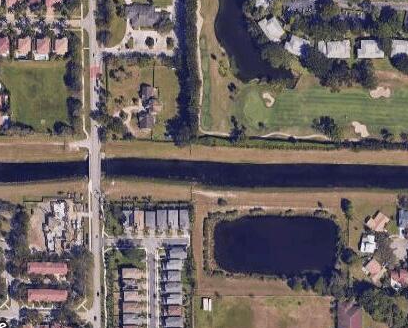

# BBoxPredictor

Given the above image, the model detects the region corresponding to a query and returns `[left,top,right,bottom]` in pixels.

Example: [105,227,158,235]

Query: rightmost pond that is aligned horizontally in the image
[215,216,338,274]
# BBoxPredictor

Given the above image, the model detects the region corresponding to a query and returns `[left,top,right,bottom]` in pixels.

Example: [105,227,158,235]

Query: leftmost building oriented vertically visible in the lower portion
[47,202,66,250]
